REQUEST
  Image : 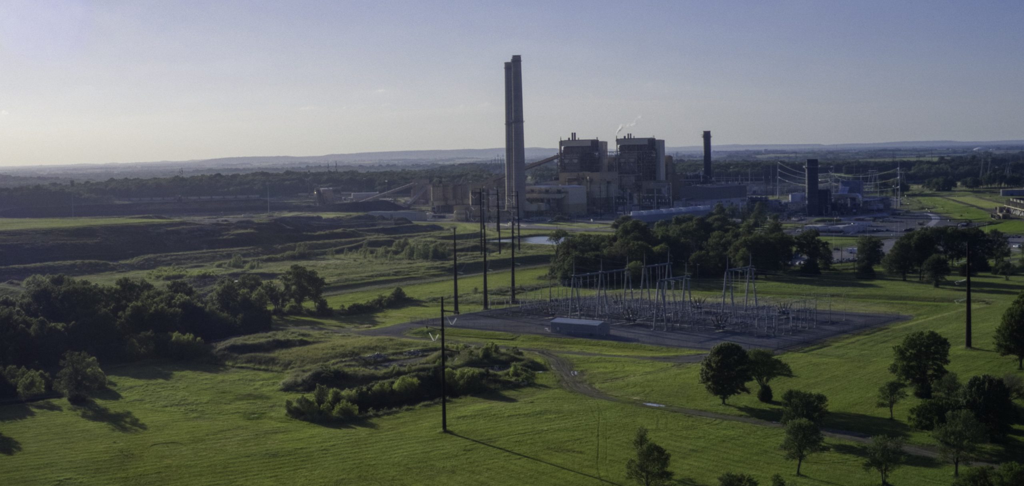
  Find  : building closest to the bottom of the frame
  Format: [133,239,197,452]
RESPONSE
[550,314,603,336]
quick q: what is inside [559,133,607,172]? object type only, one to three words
building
